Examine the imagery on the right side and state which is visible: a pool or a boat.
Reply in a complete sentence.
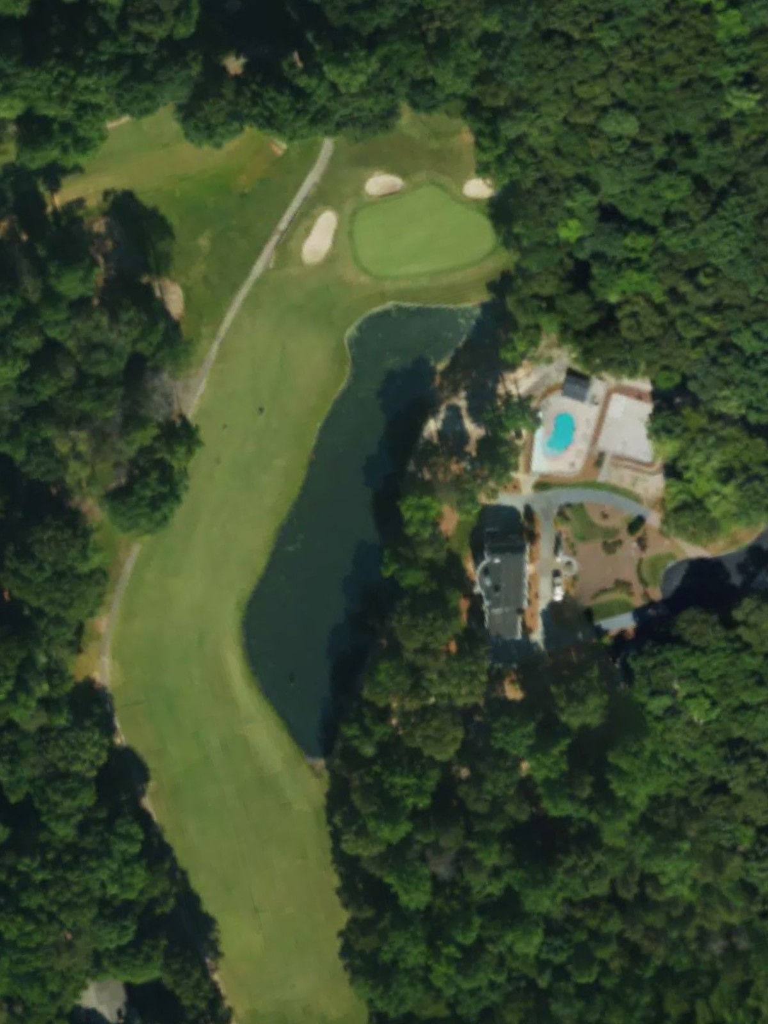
Visible on the right side is a pool.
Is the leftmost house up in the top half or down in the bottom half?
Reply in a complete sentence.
It is in the bottom half that the leftmost house appears.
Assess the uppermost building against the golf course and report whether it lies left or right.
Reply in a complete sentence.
From the viewer's perspective, the uppermost building falls to the right of the golf course.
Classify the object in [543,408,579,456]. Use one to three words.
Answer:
swimming pool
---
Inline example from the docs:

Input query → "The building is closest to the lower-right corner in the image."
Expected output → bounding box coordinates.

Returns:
[474,526,535,639]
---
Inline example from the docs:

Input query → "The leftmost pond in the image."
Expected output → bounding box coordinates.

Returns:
[244,305,482,759]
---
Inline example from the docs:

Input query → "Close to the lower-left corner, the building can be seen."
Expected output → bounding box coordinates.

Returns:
[81,981,125,1024]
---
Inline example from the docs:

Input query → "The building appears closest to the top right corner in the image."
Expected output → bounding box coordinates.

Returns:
[562,369,589,401]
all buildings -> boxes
[474,526,535,639]
[81,981,125,1024]
[562,369,589,401]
